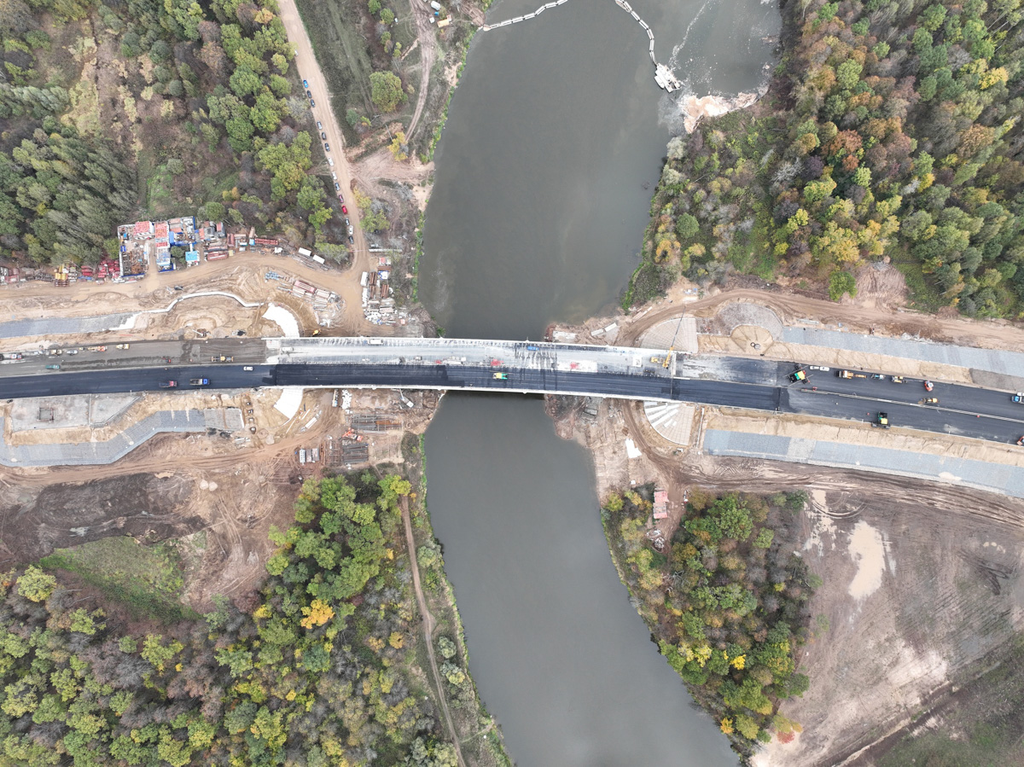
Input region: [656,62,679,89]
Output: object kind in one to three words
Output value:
ship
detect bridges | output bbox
[259,332,694,408]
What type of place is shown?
port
